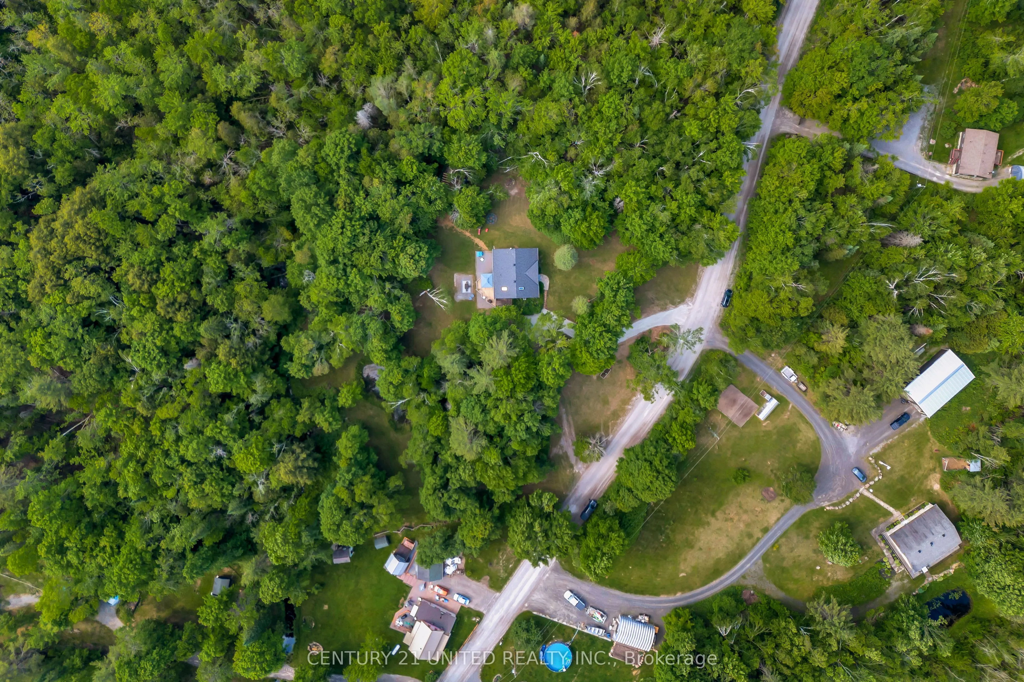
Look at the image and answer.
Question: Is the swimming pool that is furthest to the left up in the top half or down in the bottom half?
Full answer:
It is in the bottom half that the swimming pool that is furthest to the left appears.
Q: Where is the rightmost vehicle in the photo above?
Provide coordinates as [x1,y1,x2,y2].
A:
[890,412,914,431]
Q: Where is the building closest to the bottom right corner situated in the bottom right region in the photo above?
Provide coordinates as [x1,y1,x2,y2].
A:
[882,503,962,581]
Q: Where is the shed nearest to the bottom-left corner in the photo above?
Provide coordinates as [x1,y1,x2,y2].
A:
[212,575,233,597]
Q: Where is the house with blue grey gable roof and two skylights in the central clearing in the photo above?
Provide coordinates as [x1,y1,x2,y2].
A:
[492,246,542,301]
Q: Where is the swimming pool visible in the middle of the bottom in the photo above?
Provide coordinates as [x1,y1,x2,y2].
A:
[544,644,573,675]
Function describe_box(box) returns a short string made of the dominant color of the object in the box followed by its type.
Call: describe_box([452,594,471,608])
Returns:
white car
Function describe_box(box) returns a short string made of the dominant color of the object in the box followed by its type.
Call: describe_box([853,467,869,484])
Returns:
blue car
